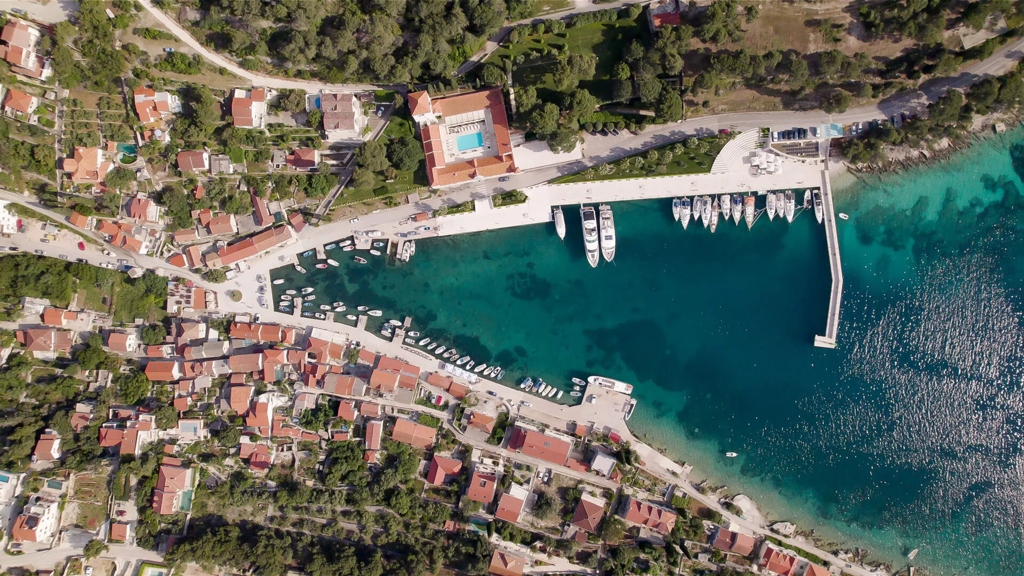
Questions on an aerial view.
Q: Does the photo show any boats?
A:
Yes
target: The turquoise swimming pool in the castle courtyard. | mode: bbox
[455,131,485,152]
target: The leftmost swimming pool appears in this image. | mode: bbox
[46,479,66,491]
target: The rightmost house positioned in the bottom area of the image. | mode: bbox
[755,540,831,576]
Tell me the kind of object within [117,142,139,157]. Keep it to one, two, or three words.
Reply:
swimming pool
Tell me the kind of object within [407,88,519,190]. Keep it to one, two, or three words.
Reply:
building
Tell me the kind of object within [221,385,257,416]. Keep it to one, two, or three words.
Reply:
house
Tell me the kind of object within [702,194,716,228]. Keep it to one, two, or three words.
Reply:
boat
